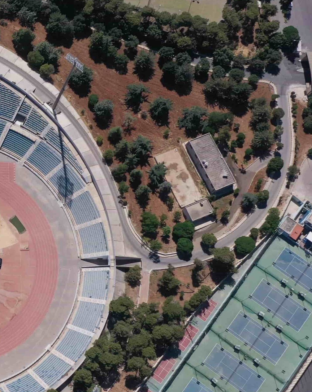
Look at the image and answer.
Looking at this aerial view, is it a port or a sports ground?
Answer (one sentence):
The picture captures a sports ground.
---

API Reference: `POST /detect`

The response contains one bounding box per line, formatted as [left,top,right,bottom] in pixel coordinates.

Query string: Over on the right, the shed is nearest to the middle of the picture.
[182,199,213,222]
